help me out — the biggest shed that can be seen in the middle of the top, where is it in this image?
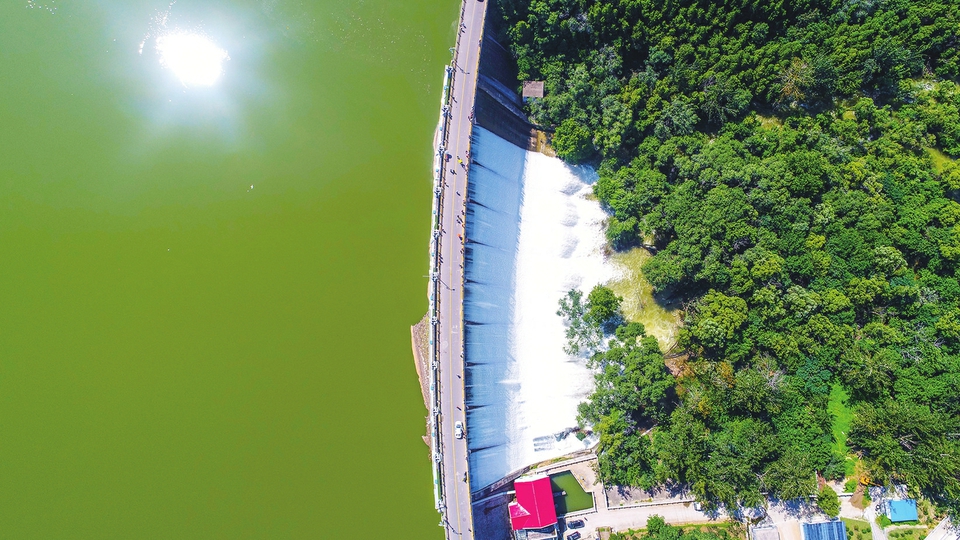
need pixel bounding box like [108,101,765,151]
[522,81,544,101]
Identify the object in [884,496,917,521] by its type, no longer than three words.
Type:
shed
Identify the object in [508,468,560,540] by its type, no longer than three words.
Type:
building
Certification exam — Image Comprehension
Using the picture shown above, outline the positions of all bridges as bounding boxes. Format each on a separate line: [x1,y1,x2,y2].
[438,0,488,540]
